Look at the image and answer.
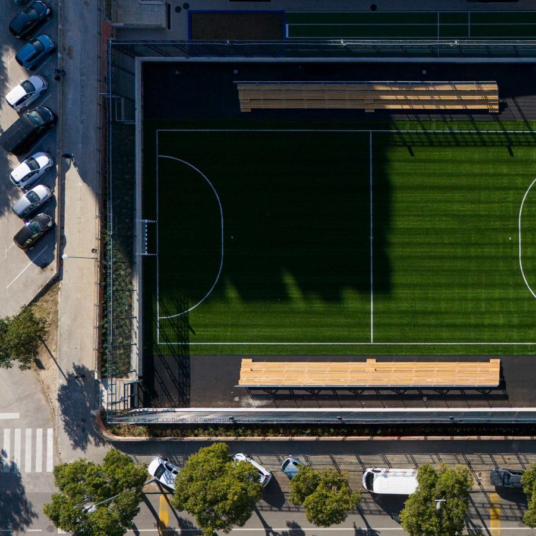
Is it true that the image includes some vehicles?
Yes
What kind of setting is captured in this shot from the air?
sports ground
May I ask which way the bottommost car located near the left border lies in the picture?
at an angle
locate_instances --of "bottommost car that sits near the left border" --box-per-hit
[9,212,59,252]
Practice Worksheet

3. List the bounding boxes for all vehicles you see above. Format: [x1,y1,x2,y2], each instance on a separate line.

[8,183,57,222]
[0,104,59,156]
[2,73,51,113]
[279,450,317,486]
[11,31,59,71]
[146,453,177,494]
[365,468,425,497]
[496,466,534,490]
[231,449,277,491]
[6,152,56,190]
[9,212,59,252]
